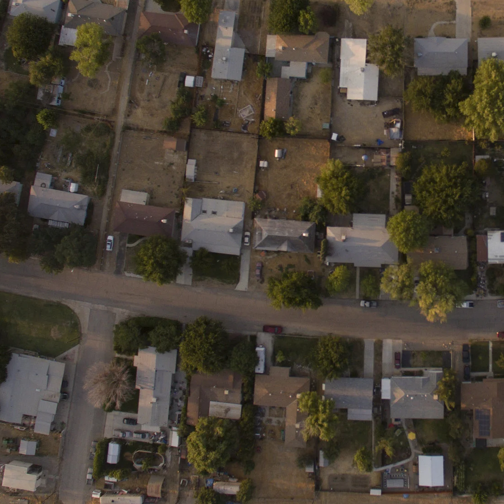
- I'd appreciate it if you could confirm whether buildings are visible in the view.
Yes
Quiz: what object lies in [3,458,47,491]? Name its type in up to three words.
shed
